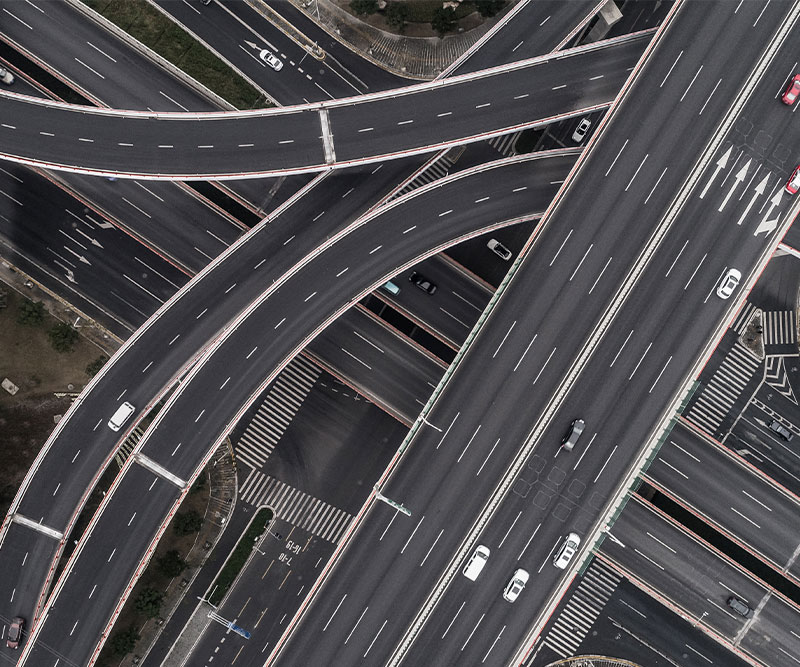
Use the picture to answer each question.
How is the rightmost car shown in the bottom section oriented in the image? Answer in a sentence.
The rightmost car shown in the bottom section runs diagonally in the image.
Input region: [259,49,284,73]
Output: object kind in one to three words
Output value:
car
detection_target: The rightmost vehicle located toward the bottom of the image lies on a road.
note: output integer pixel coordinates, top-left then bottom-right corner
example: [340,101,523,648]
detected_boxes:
[767,419,794,441]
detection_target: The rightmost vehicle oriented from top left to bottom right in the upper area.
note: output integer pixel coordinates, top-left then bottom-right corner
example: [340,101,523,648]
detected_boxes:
[486,239,512,261]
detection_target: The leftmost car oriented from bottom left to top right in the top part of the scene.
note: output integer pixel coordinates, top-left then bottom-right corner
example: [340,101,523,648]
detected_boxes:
[571,117,591,144]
